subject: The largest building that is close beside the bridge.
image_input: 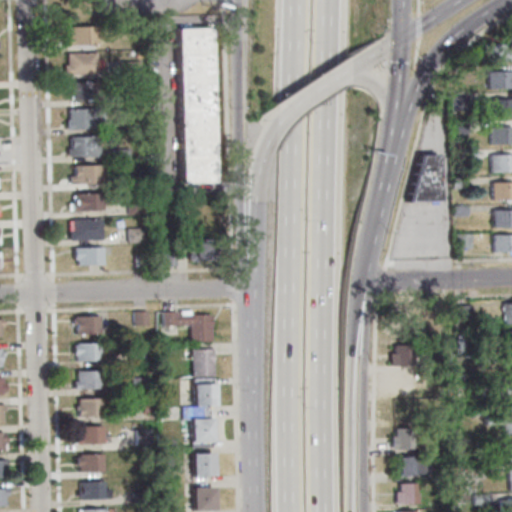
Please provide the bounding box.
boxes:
[181,28,222,188]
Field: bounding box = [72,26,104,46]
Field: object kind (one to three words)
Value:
house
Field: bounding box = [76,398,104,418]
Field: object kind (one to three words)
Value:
house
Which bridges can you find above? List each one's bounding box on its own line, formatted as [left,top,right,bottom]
[256,36,384,151]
